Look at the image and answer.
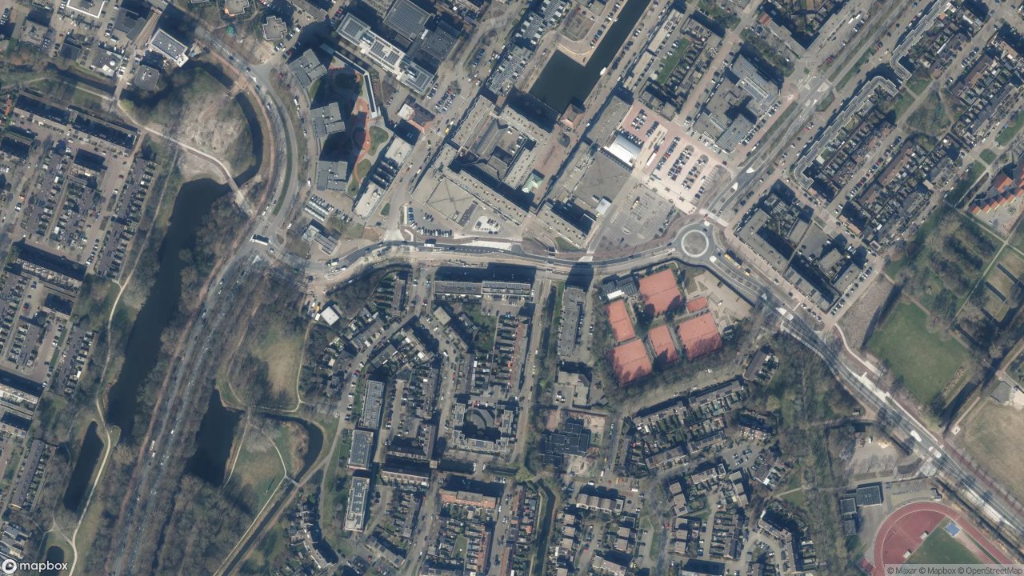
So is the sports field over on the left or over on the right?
right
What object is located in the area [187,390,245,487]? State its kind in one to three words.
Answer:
pond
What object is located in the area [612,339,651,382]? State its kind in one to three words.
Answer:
tennis court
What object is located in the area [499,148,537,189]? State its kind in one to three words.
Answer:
building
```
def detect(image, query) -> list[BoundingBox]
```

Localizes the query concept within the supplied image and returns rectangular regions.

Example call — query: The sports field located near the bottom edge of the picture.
[893,516,1009,576]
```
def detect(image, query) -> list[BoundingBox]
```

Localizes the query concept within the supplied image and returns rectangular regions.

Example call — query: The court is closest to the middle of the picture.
[607,300,635,341]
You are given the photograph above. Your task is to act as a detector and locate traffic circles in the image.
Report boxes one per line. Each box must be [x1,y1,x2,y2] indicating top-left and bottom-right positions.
[674,222,716,264]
